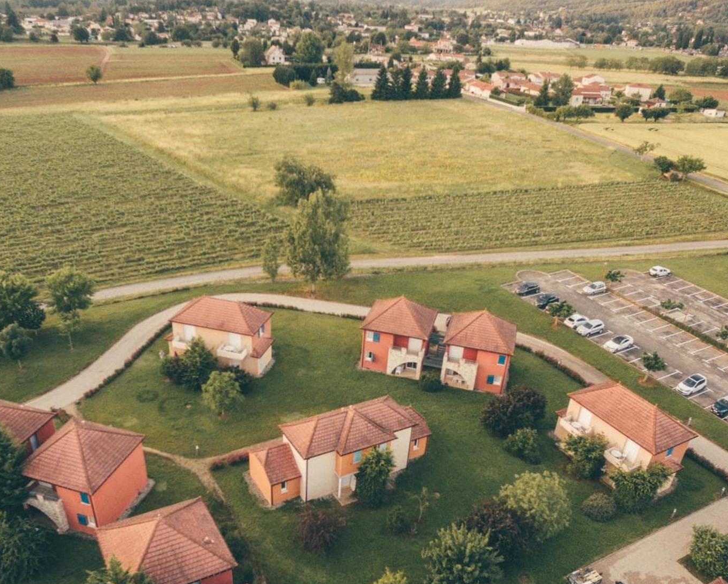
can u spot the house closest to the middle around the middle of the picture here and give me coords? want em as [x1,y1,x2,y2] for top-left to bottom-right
[359,293,439,375]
